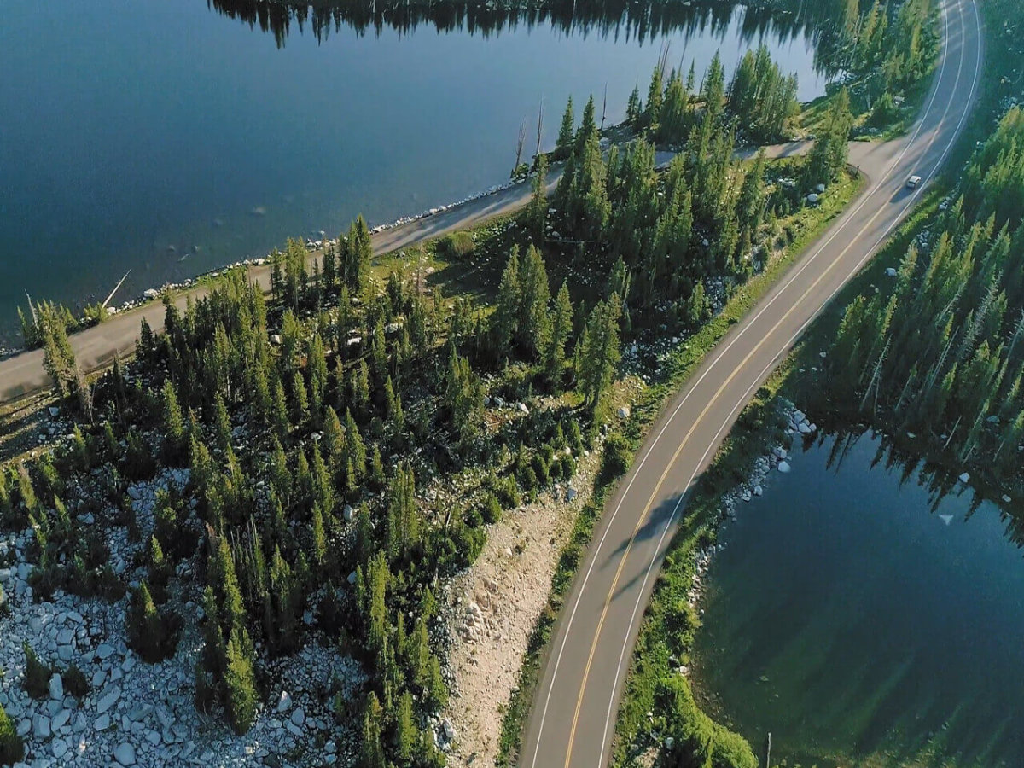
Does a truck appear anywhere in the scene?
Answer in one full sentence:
No, there's no truck here.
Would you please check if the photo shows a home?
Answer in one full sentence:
No, no home is visible in the view.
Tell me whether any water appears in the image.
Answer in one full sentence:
Yes, water shows up in the scene.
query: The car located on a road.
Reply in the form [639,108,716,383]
[905,176,920,189]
